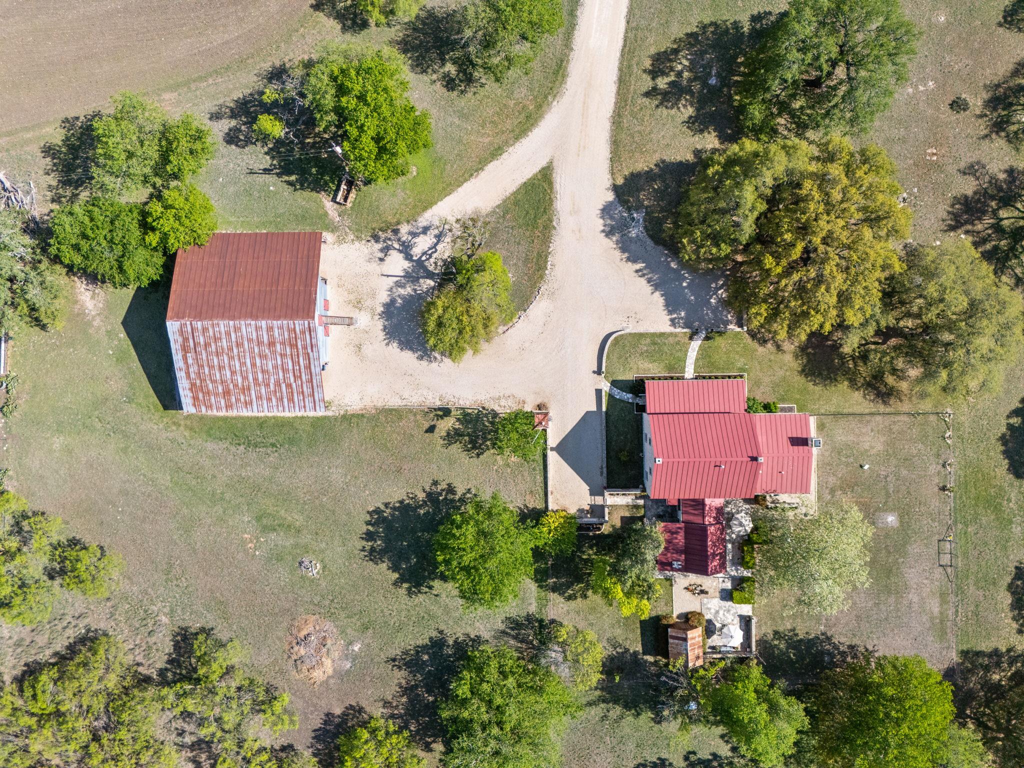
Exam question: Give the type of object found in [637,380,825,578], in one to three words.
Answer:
house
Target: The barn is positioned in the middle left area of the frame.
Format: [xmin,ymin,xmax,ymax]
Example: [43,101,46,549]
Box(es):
[164,231,330,412]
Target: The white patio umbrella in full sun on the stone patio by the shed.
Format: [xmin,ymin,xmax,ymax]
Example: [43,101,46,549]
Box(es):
[719,622,742,646]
